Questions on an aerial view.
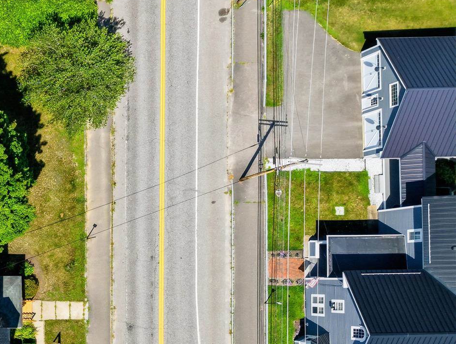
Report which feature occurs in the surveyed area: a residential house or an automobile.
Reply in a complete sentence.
This aerial view contains a residential house.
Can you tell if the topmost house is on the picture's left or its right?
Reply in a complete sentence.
The topmost house is on the right side of the image.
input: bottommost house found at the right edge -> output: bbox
[294,194,456,344]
